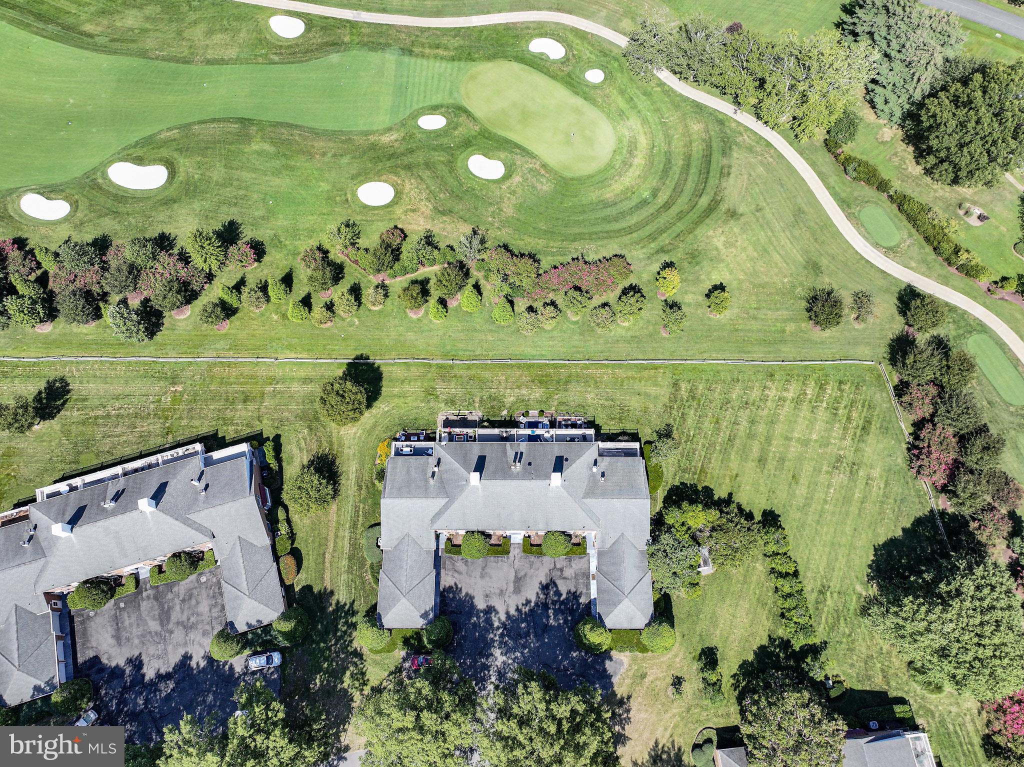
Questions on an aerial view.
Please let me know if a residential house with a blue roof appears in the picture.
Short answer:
No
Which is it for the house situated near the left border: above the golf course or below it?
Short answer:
below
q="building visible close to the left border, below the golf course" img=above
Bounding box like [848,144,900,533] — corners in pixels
[0,442,289,708]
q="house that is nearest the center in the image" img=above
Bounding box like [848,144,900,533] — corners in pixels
[377,428,655,628]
